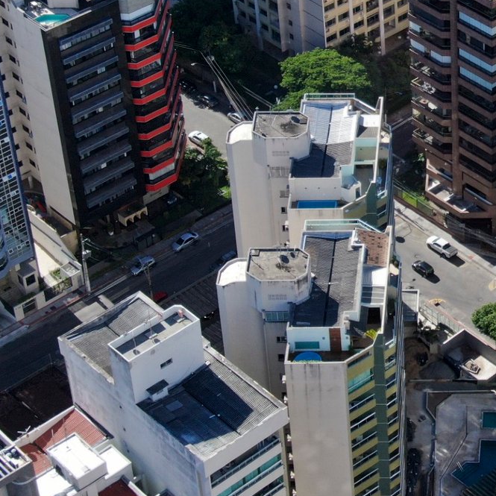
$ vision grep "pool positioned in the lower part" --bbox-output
[298,345,320,361]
